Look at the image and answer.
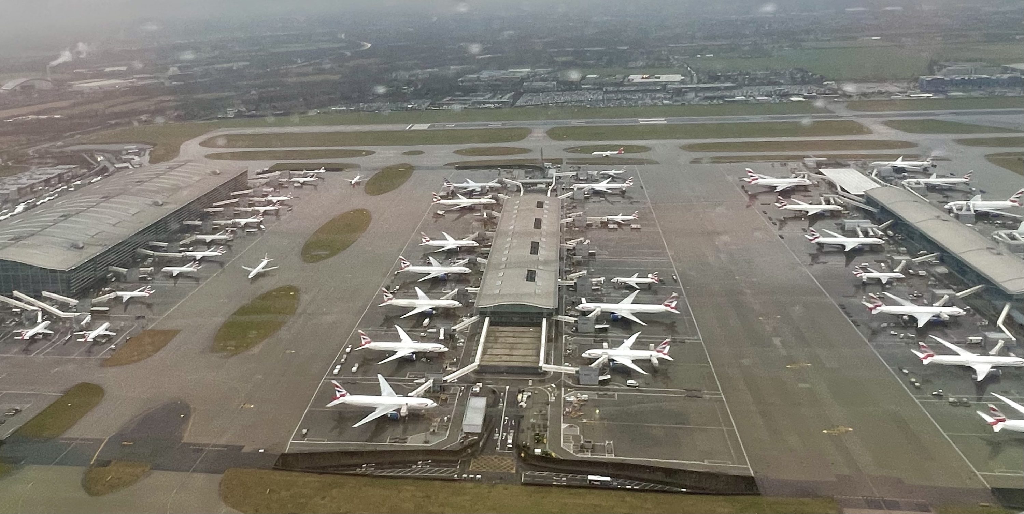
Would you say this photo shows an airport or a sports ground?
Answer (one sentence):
This image shows an airport.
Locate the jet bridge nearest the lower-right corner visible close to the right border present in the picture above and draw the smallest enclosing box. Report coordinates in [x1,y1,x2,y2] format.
[986,340,1005,357]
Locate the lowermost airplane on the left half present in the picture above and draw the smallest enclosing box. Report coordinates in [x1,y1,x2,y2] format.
[327,375,437,430]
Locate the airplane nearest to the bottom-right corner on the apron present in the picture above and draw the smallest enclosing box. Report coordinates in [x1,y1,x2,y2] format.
[979,392,1024,432]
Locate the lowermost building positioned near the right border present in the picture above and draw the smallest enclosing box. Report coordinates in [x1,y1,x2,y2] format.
[981,331,1014,352]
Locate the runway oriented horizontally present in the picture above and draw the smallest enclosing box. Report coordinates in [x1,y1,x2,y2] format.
[398,108,1024,130]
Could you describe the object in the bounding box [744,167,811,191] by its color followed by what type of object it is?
white airplane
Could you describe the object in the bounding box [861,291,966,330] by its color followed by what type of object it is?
white airplane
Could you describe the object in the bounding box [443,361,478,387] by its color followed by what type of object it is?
white jet bridge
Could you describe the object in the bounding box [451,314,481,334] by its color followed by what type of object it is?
white jet bridge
